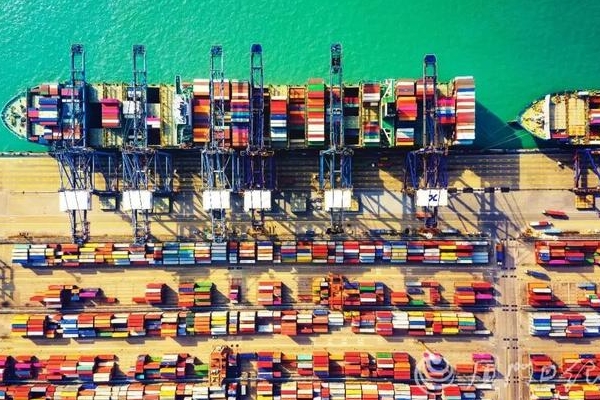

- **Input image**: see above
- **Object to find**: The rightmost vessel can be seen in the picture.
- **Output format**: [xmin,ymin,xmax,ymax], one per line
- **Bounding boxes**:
[516,86,600,146]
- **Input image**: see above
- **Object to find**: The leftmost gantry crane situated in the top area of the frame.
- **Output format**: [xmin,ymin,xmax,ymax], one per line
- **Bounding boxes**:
[46,45,125,245]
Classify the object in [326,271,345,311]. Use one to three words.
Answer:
crane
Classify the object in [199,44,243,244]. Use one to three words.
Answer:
container crane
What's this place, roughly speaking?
port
